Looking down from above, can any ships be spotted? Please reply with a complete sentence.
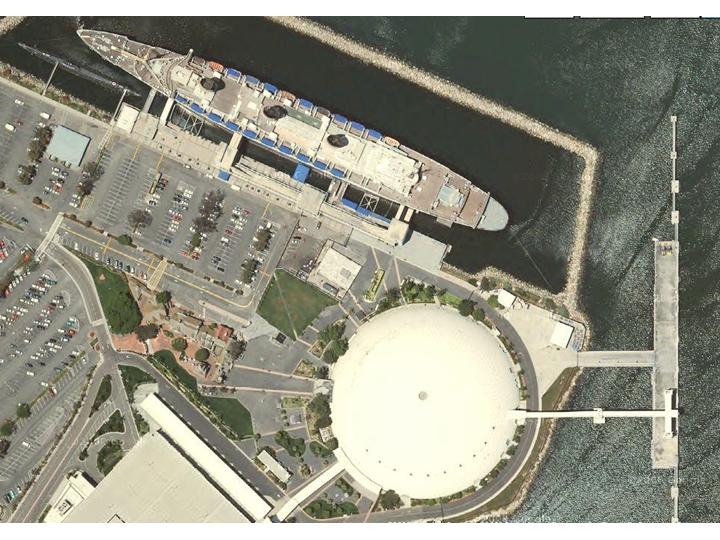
Yes, a ship appears in the view.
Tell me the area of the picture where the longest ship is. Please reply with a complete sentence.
The longest ship appears toward the top of the photo.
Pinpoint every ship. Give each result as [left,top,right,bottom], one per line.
[22,46,132,93]
[76,25,508,231]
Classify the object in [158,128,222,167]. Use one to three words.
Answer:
building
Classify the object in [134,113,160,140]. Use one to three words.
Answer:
building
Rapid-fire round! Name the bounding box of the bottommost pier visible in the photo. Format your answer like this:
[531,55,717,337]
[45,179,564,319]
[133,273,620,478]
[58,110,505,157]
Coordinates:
[653,241,680,468]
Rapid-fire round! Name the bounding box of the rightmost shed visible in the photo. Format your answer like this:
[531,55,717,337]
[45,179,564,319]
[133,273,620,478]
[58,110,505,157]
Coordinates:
[550,322,573,349]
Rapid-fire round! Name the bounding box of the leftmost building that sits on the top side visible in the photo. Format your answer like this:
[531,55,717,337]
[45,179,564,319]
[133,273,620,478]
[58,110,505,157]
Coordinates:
[48,124,91,167]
